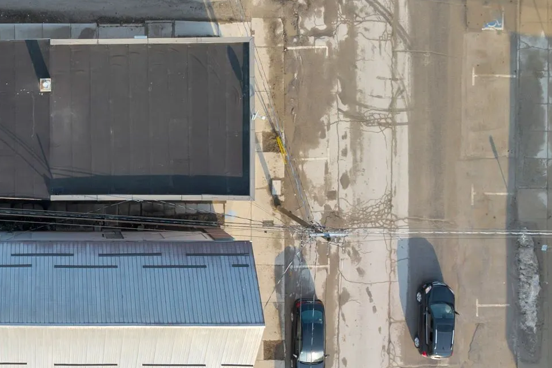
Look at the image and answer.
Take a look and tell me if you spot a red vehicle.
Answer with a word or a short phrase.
No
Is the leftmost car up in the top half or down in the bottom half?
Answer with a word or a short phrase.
bottom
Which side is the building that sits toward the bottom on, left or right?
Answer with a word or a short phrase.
left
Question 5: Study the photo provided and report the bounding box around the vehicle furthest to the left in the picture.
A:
[289,296,334,368]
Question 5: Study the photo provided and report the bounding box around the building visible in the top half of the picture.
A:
[0,38,254,200]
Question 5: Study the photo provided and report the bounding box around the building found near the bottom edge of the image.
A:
[0,229,263,368]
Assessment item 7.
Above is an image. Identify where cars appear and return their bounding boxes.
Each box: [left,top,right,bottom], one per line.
[411,278,462,360]
[289,296,334,368]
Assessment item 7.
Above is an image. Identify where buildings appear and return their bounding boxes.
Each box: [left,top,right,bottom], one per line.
[0,229,263,368]
[0,38,254,200]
